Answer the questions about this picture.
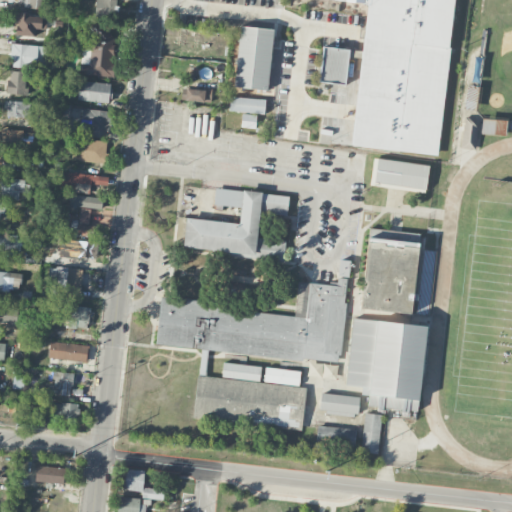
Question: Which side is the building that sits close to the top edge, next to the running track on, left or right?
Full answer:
The building that sits close to the top edge, next to the running track appears in the right half of the scene.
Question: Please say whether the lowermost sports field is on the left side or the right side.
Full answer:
The lowermost sports field sits on the right side.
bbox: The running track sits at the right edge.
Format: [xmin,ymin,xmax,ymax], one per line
[426,138,512,477]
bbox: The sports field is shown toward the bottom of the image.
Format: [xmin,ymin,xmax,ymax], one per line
[453,200,512,418]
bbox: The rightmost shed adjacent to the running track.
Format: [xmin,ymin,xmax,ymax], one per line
[483,119,509,136]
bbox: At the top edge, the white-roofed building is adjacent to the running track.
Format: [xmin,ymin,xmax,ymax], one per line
[352,0,457,156]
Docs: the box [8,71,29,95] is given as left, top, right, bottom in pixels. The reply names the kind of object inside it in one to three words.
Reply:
house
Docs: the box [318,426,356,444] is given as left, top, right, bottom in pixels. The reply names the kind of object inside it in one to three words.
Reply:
shed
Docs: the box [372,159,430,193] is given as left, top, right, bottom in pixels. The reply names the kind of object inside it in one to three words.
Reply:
building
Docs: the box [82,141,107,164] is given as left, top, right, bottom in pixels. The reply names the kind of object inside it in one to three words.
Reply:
house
